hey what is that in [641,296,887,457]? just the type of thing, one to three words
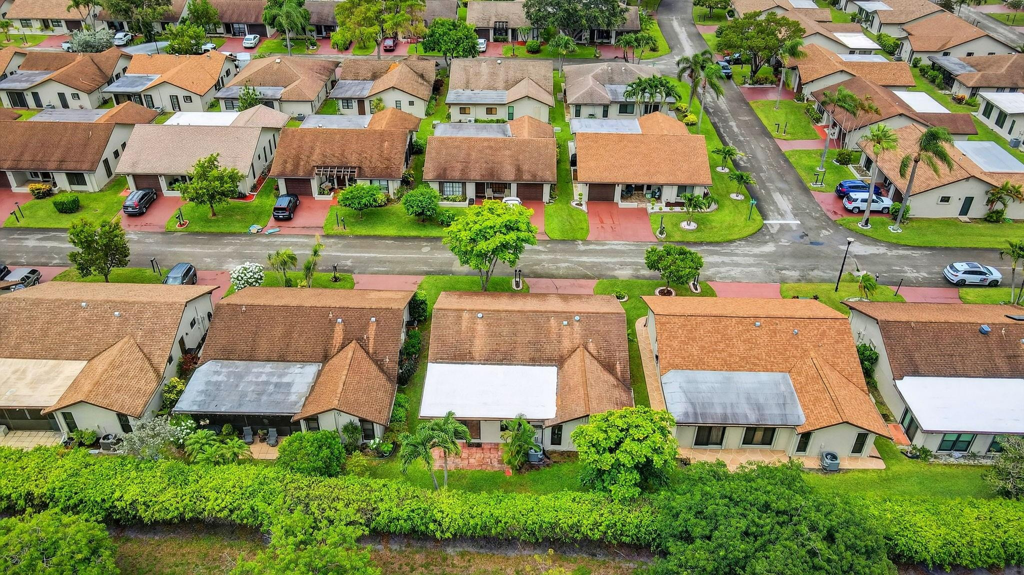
house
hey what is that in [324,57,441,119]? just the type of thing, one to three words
house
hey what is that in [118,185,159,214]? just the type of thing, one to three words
car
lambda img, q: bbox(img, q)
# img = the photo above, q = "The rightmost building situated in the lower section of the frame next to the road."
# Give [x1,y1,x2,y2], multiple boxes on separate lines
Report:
[841,301,1024,459]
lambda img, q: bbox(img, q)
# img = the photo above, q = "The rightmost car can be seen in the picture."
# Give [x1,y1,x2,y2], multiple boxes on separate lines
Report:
[941,261,1009,291]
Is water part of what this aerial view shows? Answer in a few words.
No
